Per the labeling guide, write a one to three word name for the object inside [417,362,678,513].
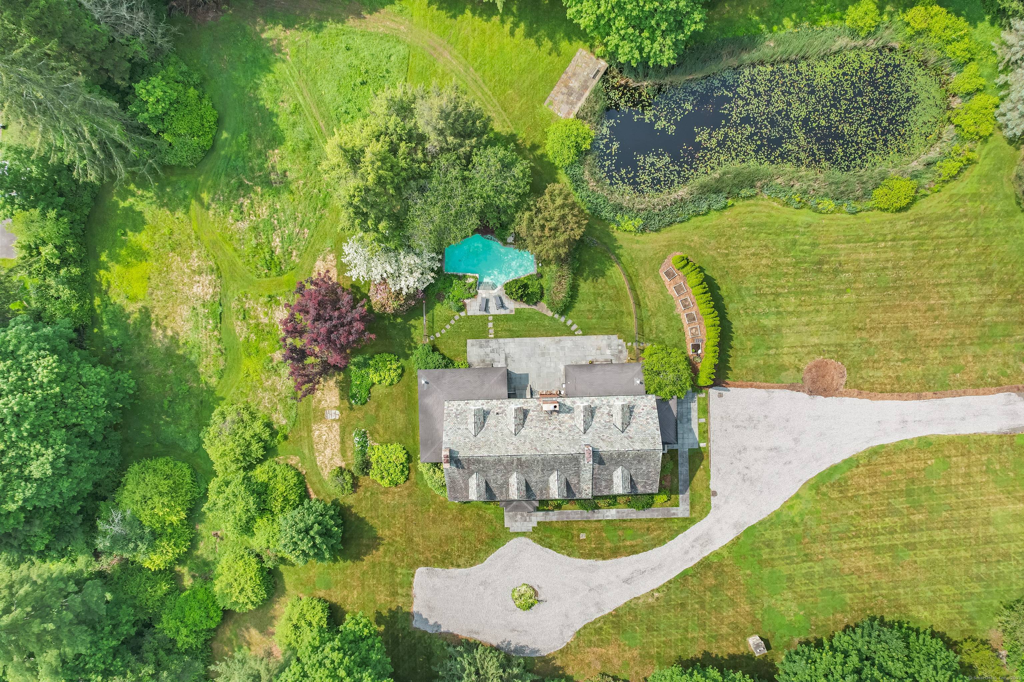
house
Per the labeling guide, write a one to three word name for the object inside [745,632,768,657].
shed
